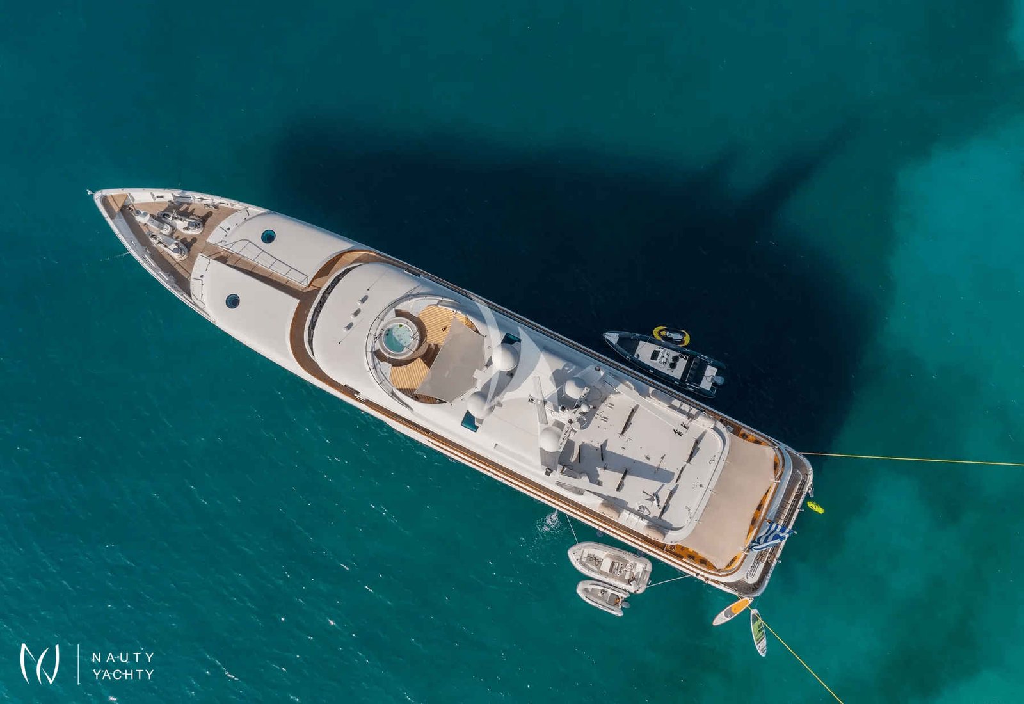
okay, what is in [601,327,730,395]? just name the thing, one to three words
boat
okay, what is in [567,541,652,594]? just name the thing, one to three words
boat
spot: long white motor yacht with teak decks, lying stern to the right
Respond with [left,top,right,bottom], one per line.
[84,183,815,597]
